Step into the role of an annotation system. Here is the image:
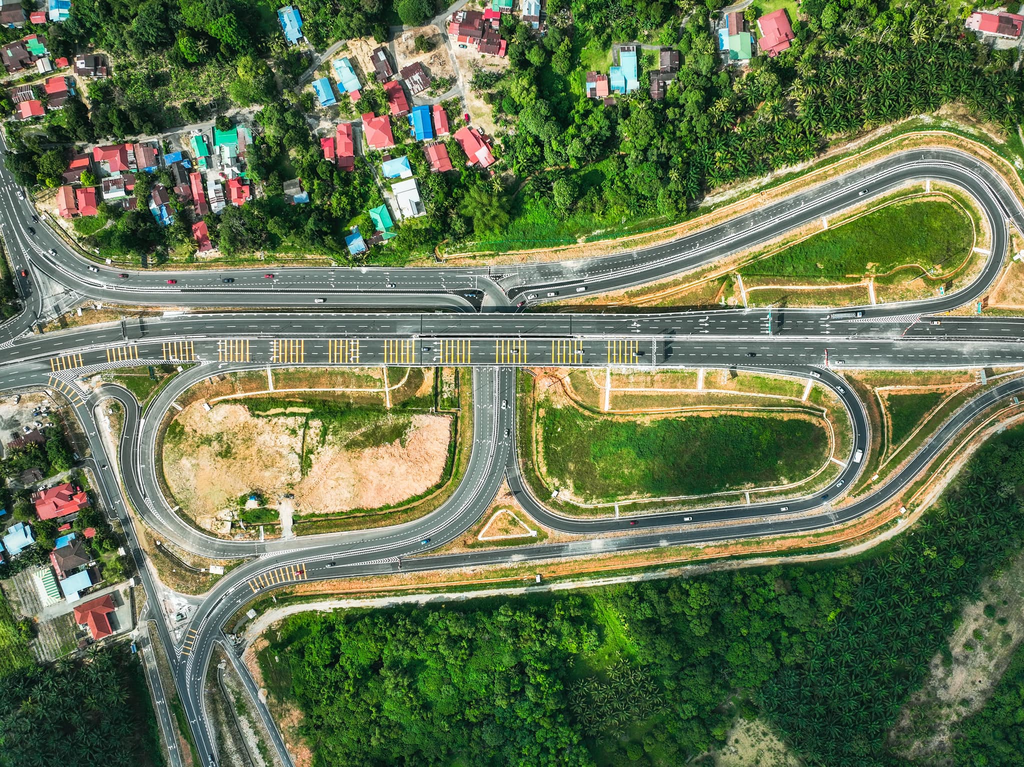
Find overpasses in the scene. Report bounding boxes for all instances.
[420,313,573,367]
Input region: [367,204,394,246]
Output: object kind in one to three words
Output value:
house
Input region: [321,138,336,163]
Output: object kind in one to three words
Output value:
house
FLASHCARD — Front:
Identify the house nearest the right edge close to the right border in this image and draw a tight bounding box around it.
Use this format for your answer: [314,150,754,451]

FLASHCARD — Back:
[964,9,1024,37]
